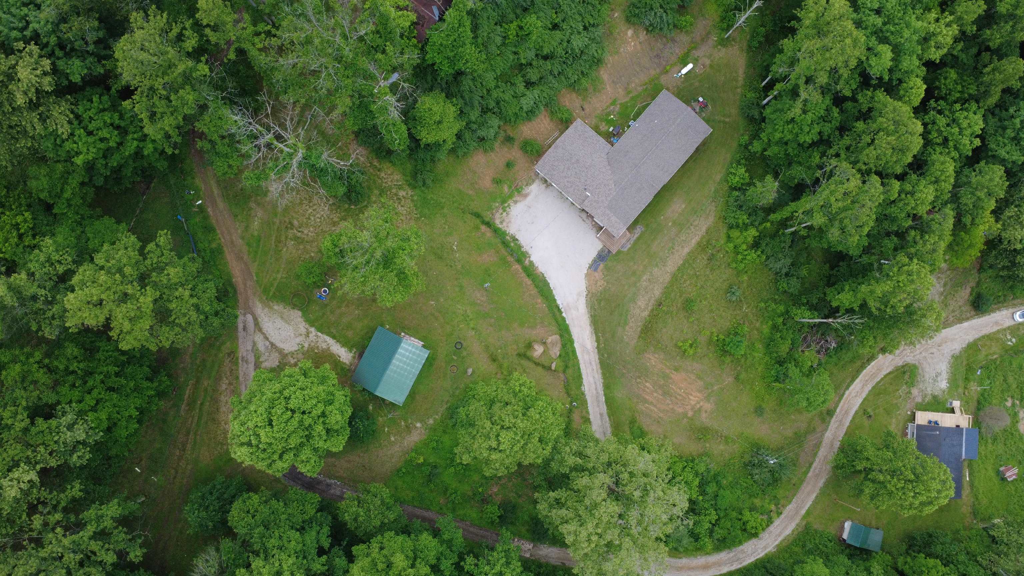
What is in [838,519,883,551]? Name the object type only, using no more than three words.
shed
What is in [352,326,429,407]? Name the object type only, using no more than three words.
shed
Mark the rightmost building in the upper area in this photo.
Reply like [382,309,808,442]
[534,87,711,239]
